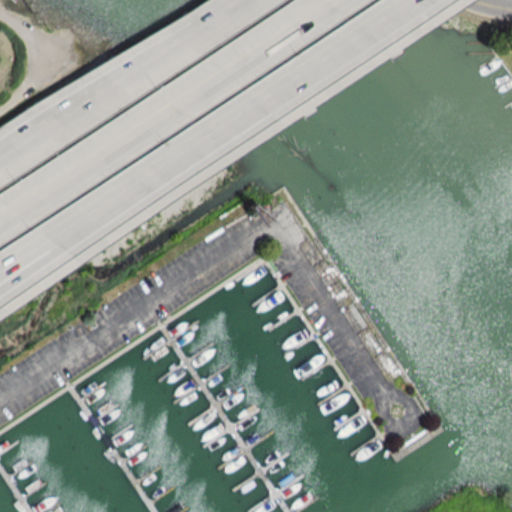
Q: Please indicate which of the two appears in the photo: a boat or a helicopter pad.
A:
boat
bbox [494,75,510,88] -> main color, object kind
white boat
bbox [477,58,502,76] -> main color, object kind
white boat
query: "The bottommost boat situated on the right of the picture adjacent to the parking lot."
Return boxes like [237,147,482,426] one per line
[356,439,386,462]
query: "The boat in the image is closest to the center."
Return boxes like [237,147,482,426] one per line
[244,265,270,286]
